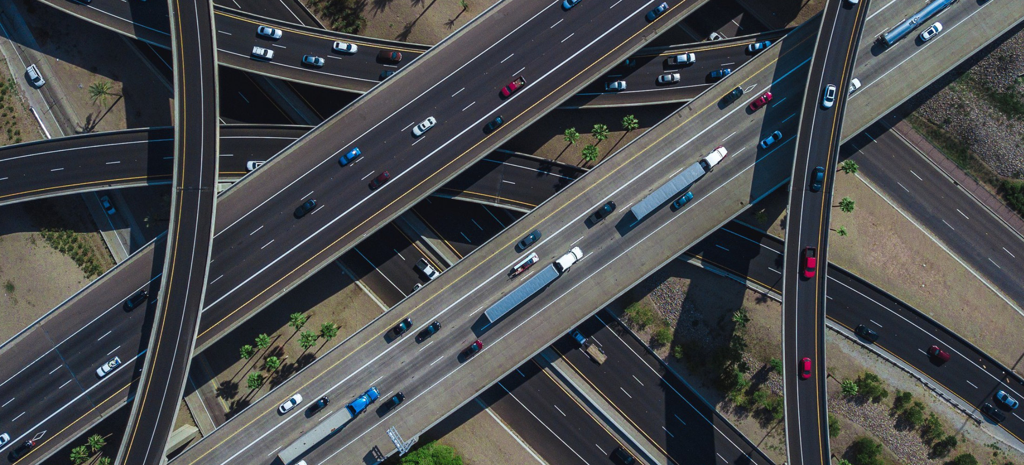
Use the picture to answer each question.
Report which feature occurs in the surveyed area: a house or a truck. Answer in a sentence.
Of the two, only a truck appears.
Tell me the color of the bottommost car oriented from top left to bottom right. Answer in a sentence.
From above, the bottommost car oriented from top left to bottom right appears black.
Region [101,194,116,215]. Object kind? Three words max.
car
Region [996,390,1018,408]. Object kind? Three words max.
car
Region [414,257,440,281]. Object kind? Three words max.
truck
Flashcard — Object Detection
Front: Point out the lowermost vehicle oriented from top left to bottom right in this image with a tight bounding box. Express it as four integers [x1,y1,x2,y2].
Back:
[611,445,634,465]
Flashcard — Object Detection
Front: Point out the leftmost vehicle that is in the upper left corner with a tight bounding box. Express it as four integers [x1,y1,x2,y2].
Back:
[26,64,45,87]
